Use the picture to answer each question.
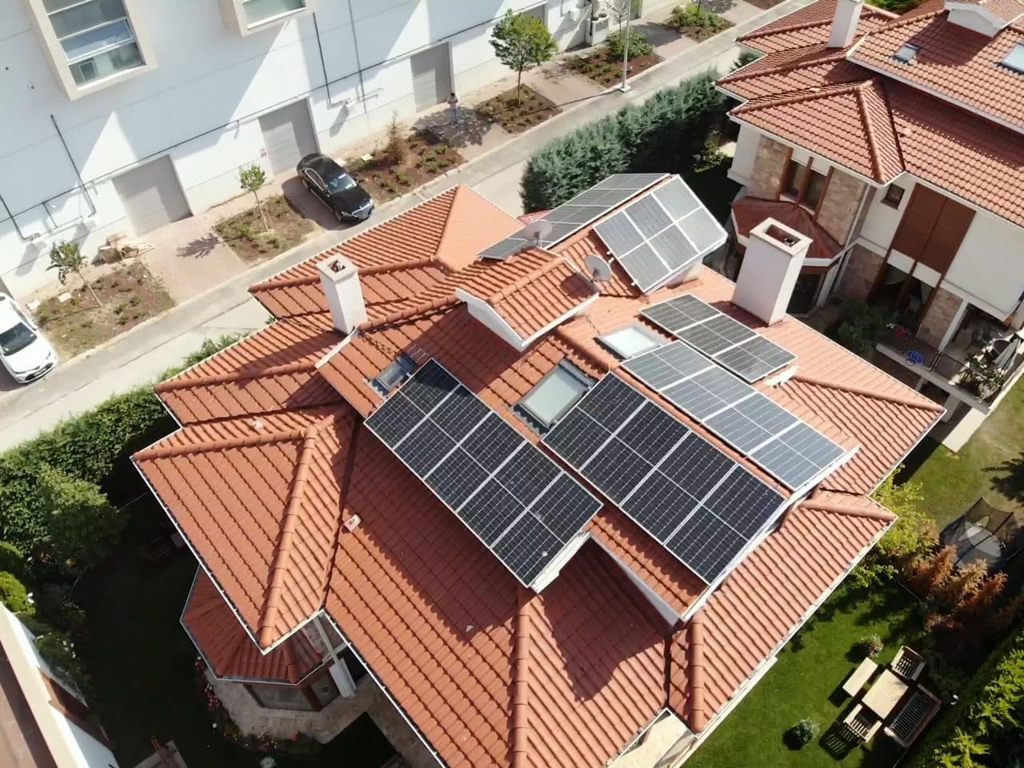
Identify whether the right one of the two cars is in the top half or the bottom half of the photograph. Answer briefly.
top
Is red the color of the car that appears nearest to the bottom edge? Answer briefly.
No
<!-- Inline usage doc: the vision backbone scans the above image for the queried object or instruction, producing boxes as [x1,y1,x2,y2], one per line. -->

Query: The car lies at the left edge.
[0,298,56,383]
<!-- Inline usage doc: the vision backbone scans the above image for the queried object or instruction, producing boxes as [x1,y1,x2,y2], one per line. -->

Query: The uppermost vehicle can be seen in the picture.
[291,150,375,223]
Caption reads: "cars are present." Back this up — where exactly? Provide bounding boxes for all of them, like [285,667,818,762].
[0,298,56,383]
[291,150,375,223]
